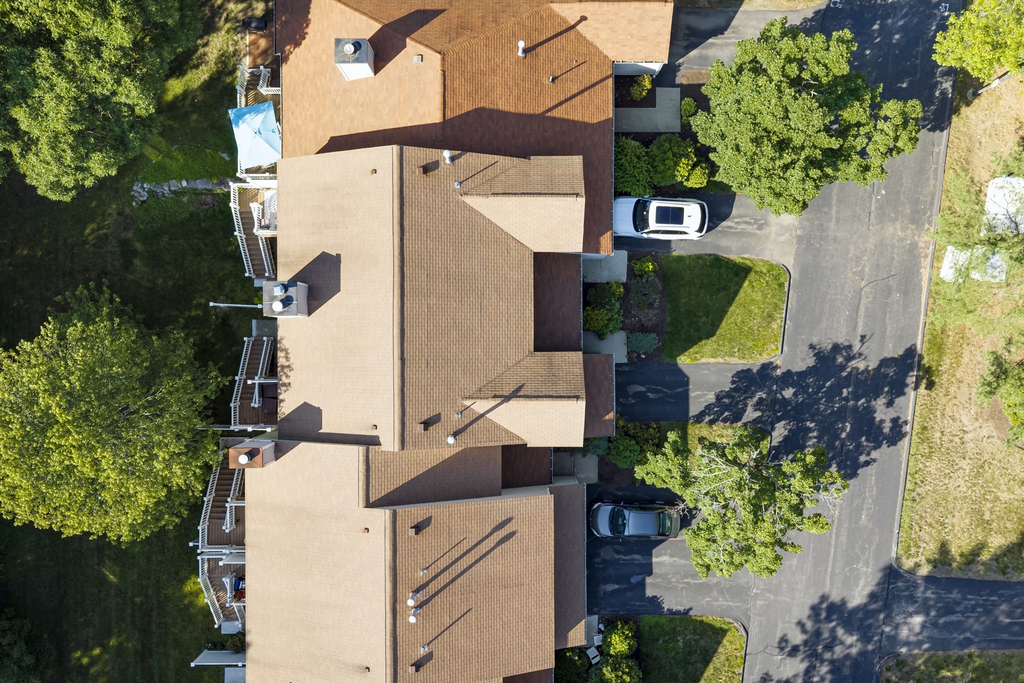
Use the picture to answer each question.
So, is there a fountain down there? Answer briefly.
No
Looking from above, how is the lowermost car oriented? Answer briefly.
from side to side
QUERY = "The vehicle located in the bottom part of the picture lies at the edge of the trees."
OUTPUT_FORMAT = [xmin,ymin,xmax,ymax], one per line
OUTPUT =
[590,501,680,543]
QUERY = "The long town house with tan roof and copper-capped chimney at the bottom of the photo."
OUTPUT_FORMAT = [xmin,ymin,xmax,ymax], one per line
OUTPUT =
[229,431,588,683]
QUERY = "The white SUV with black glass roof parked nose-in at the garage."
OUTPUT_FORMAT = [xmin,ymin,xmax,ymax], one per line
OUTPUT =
[616,193,709,241]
